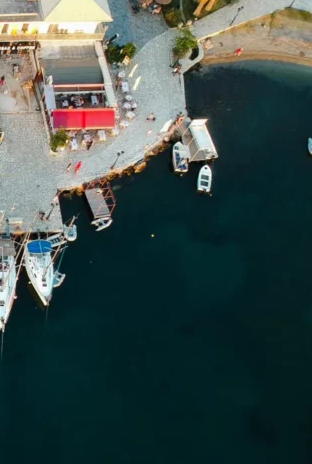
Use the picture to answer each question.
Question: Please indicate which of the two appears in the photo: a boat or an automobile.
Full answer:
The image shows a boat.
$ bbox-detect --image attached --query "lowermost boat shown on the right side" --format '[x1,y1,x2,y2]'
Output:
[198,167,211,194]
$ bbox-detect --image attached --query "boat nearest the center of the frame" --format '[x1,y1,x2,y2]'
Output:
[90,218,113,232]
